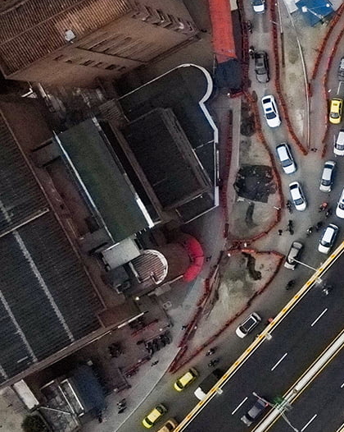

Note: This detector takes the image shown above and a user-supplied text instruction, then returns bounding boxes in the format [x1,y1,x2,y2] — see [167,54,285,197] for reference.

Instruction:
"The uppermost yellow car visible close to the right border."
[329,97,344,124]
